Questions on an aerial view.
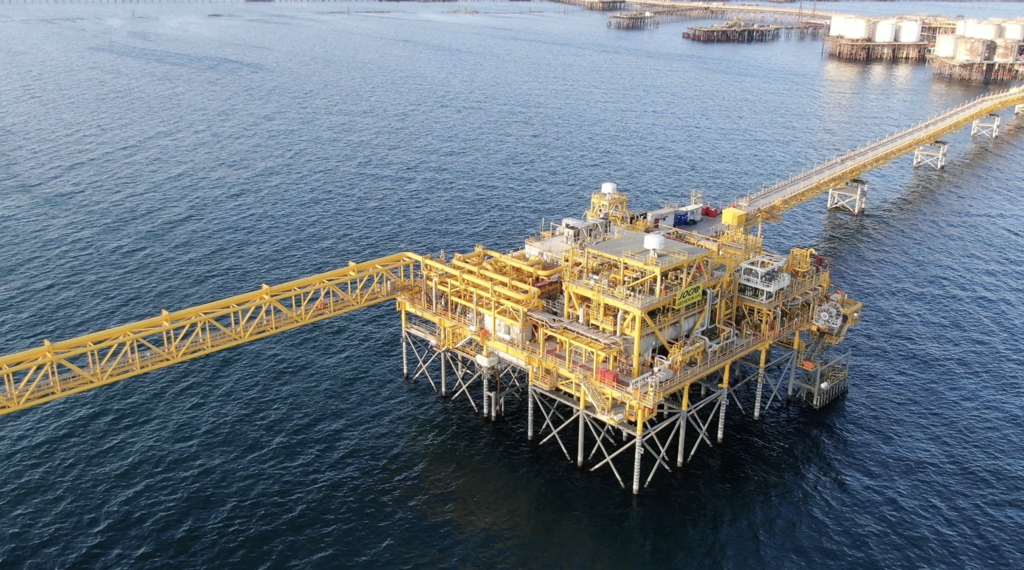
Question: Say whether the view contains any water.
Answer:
Yes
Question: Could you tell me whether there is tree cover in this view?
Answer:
No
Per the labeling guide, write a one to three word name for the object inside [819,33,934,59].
pier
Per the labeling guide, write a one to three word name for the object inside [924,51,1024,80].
pier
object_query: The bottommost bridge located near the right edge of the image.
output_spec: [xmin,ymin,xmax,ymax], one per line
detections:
[729,85,1024,216]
